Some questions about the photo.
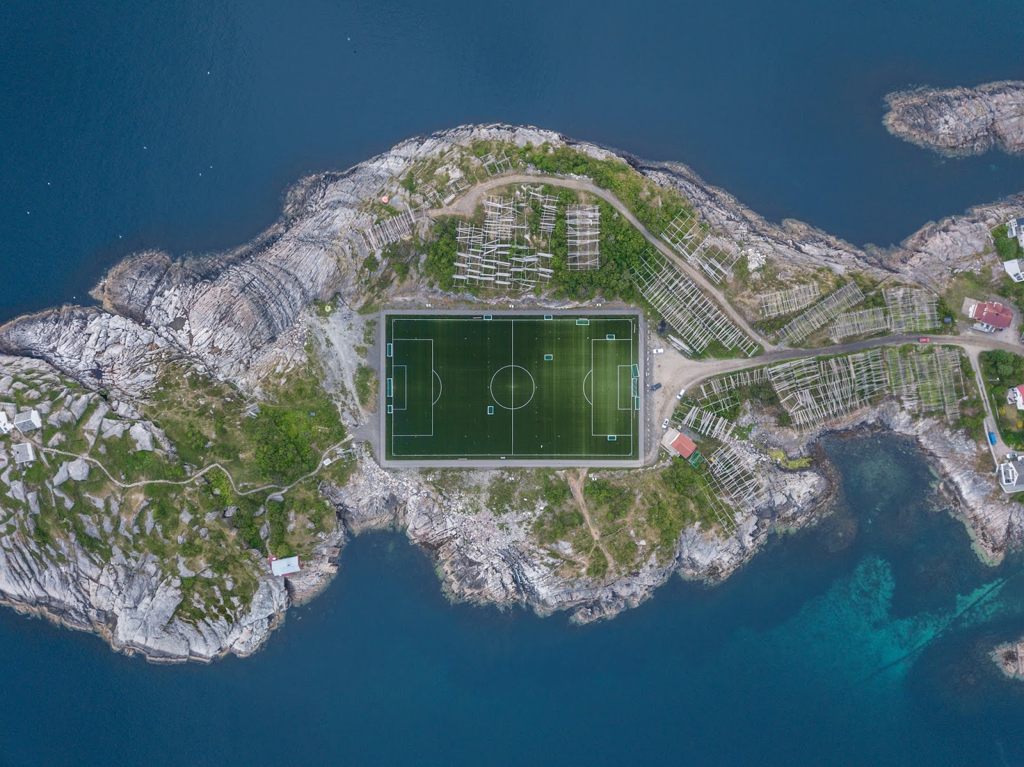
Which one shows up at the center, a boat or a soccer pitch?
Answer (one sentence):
The one visible at the center is a soccer pitch.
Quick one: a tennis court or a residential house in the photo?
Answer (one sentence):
There is a residential house in the scene.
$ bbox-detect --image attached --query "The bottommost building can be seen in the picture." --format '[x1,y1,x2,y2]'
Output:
[267,554,302,575]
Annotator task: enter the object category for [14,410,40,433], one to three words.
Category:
house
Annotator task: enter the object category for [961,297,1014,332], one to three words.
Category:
house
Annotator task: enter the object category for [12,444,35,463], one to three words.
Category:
shed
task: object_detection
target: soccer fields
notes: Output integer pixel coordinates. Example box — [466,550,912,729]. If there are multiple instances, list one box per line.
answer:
[380,310,644,467]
